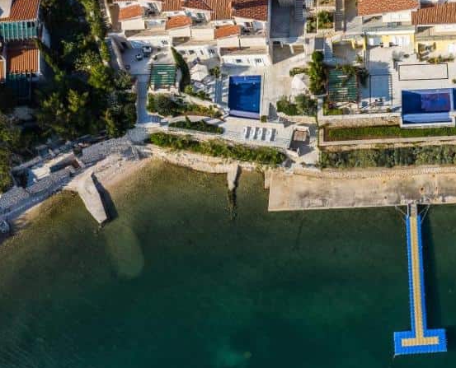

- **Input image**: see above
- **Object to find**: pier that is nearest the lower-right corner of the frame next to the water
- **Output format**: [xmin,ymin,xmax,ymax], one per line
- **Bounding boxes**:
[396,200,449,352]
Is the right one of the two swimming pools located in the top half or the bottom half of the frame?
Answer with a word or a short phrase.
top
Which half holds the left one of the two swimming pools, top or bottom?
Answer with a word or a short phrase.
top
